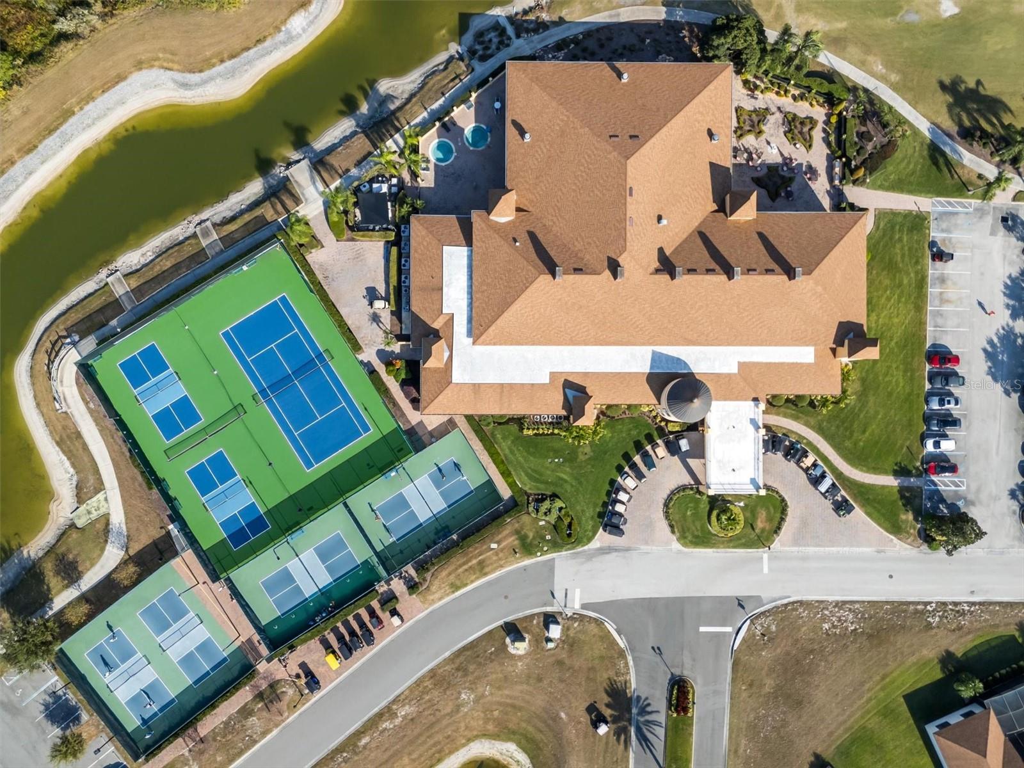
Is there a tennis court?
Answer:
Yes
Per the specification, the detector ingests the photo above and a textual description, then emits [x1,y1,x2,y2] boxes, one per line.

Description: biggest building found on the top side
[410,61,880,495]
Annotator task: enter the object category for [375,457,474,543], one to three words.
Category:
sports court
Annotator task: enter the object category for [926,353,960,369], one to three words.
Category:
car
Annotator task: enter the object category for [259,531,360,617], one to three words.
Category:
sports court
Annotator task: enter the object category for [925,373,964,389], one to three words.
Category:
vehicle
